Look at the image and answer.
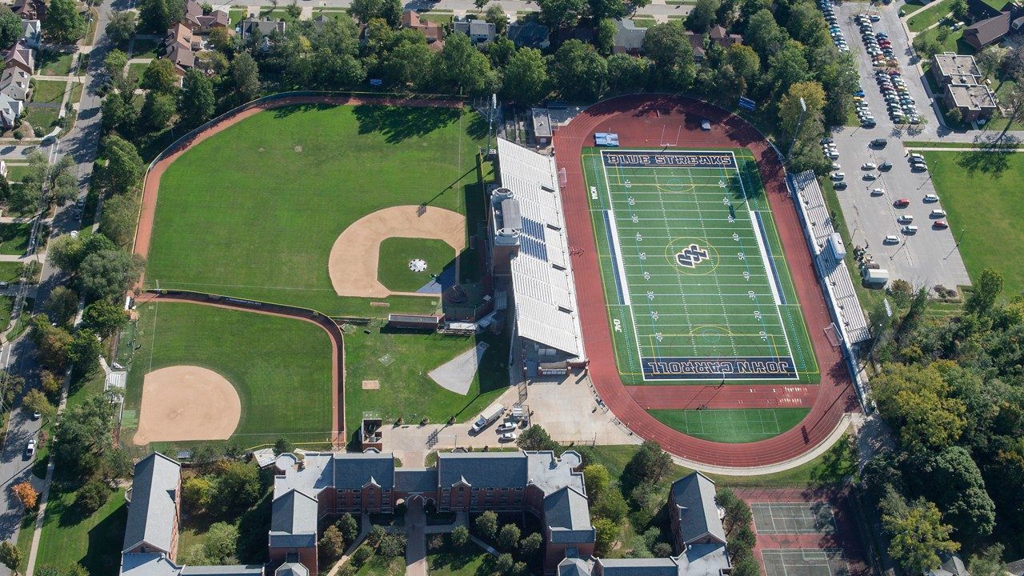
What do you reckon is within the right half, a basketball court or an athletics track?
athletics track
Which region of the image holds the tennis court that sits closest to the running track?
bottom right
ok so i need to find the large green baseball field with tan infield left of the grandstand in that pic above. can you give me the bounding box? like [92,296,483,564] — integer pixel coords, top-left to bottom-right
[133,94,490,318]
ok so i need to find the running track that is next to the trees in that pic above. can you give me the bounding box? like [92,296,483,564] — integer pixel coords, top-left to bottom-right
[557,94,849,467]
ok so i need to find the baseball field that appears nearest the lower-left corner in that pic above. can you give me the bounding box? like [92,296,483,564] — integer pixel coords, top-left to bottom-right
[116,294,345,454]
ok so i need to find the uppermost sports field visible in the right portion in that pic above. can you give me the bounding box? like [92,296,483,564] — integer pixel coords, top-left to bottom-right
[580,145,822,386]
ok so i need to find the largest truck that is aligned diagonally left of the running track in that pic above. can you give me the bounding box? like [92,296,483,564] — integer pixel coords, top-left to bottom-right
[475,403,502,427]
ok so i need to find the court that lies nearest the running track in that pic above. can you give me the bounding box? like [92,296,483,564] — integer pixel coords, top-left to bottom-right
[748,500,842,536]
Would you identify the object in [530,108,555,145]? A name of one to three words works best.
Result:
building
